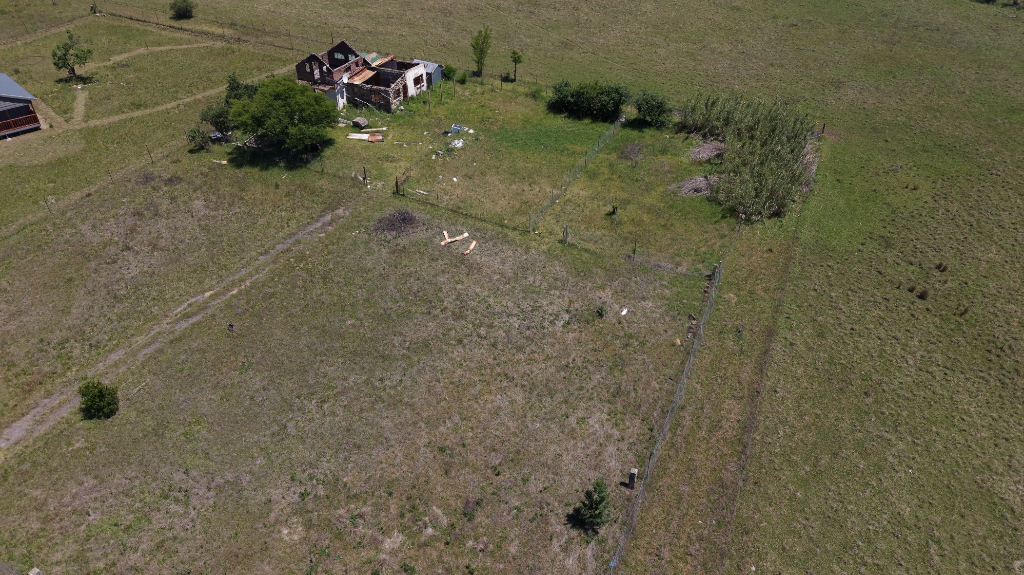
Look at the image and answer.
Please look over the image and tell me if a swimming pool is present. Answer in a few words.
No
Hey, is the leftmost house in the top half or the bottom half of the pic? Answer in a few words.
top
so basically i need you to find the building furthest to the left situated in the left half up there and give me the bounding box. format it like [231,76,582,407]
[0,77,41,135]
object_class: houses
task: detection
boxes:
[0,77,41,135]
[290,39,426,113]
